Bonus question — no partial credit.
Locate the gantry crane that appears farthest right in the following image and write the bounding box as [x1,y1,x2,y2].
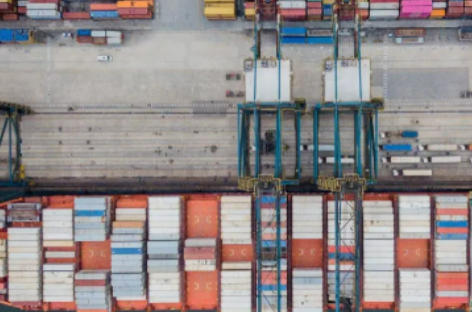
[308,0,385,312]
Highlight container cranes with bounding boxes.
[308,0,385,312]
[0,97,44,187]
[235,0,312,312]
